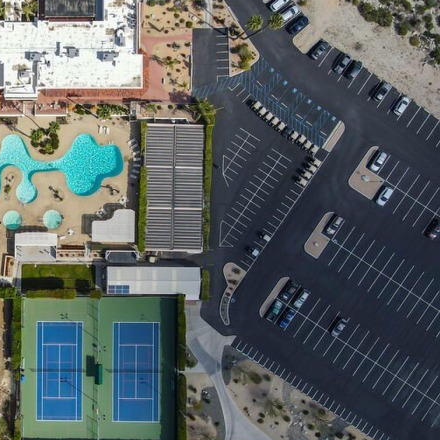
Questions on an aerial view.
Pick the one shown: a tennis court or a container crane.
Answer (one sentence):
I can see a tennis court in this picture.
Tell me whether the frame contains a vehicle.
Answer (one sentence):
Yes, a vehicle appears in the view.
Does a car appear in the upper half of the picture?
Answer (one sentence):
Yes, I can see a car in the upper half of the picture.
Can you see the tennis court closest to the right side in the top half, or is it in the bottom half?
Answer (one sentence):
It is in the bottom half that the tennis court closest to the right side appears.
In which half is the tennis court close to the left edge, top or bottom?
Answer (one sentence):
The bottom half of the photo is where the tennis court close to the left edge is.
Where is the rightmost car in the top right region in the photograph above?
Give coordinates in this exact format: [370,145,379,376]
[396,96,412,113]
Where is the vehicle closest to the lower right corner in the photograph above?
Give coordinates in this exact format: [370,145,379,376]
[332,318,349,337]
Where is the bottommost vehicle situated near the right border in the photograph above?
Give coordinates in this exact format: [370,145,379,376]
[428,220,440,238]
